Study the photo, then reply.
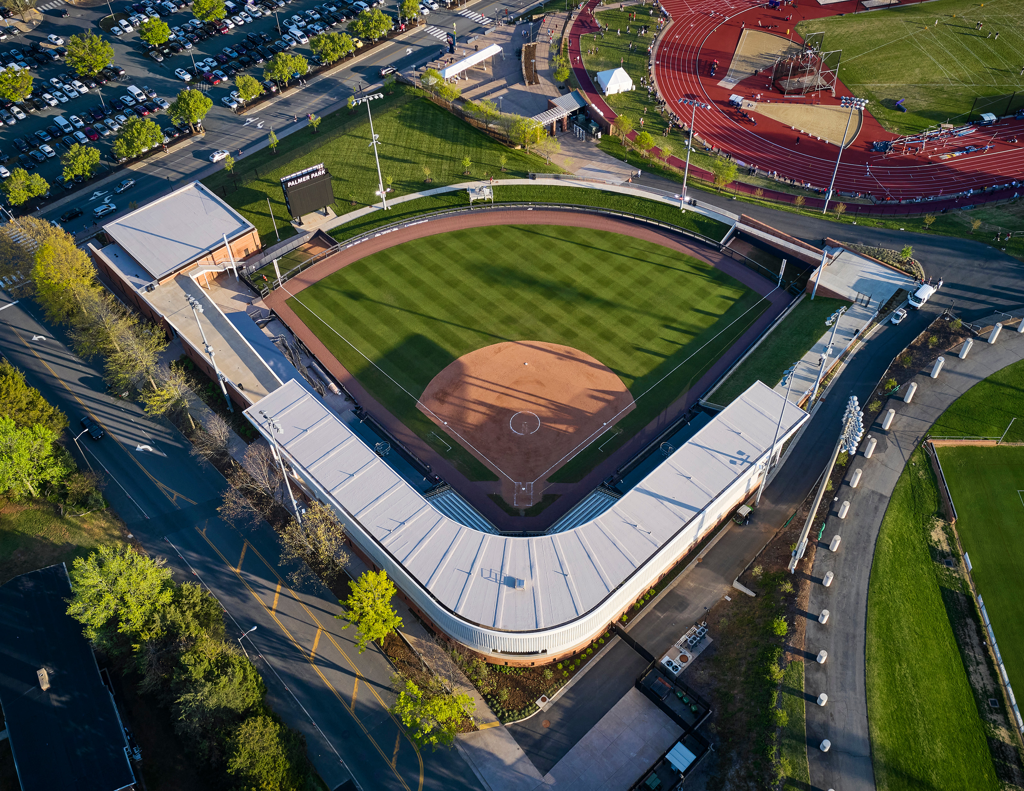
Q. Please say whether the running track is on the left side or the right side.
right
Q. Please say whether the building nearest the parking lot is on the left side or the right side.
left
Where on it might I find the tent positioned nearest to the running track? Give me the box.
[597,62,633,94]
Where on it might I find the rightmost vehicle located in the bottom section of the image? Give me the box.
[735,501,755,523]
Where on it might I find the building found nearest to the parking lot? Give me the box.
[103,186,258,291]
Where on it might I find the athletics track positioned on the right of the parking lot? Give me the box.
[654,0,1024,199]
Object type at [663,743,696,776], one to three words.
shed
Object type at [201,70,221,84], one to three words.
vehicle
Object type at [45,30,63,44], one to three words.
car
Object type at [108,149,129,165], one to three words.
vehicle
